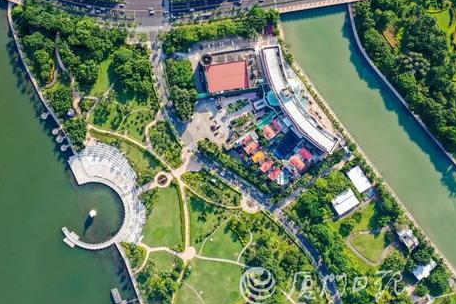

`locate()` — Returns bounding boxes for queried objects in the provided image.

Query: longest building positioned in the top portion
[258,46,339,152]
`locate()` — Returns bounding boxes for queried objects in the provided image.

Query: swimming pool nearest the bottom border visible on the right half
[274,133,299,157]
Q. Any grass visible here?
Yes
